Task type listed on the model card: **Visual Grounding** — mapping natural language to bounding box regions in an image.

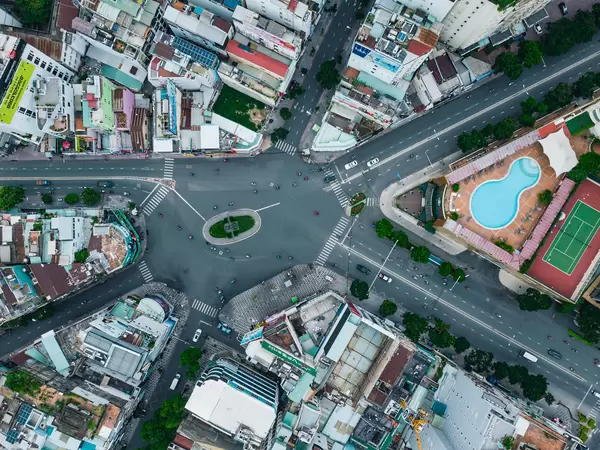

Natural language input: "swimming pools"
[468,155,544,231]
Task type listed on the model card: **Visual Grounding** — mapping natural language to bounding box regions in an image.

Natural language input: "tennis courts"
[524,178,600,301]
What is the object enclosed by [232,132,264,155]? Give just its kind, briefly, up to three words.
building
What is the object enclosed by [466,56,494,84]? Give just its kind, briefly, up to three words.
building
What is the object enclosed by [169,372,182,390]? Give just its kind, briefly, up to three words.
vehicle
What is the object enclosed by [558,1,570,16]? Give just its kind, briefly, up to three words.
vehicle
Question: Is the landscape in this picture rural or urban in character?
urban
